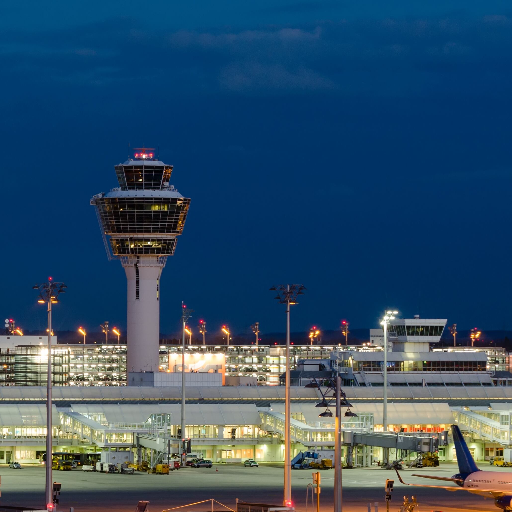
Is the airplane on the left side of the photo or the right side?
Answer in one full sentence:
The airplane is on the right side of the image.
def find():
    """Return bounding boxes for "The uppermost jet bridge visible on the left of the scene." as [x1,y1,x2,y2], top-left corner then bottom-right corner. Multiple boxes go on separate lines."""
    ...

[127,436,199,478]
